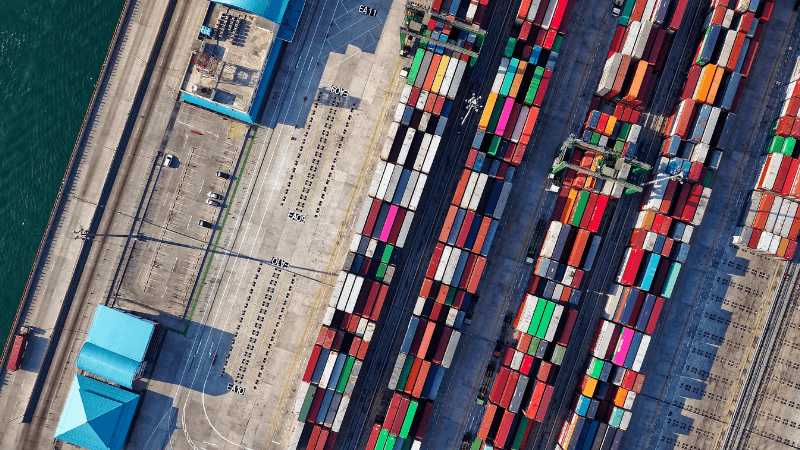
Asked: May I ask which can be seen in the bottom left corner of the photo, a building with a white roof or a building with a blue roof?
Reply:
building with a blue roof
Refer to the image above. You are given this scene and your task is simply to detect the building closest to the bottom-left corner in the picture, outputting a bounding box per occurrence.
[55,371,142,450]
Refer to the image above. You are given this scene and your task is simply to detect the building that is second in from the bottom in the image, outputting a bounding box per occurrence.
[74,302,168,387]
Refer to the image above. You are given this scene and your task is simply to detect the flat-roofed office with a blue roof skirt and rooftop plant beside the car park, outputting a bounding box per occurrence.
[180,0,307,123]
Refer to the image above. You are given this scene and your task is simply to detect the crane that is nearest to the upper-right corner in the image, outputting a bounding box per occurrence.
[542,135,655,197]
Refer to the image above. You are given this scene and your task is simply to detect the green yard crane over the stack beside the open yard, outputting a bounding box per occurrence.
[398,2,491,77]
